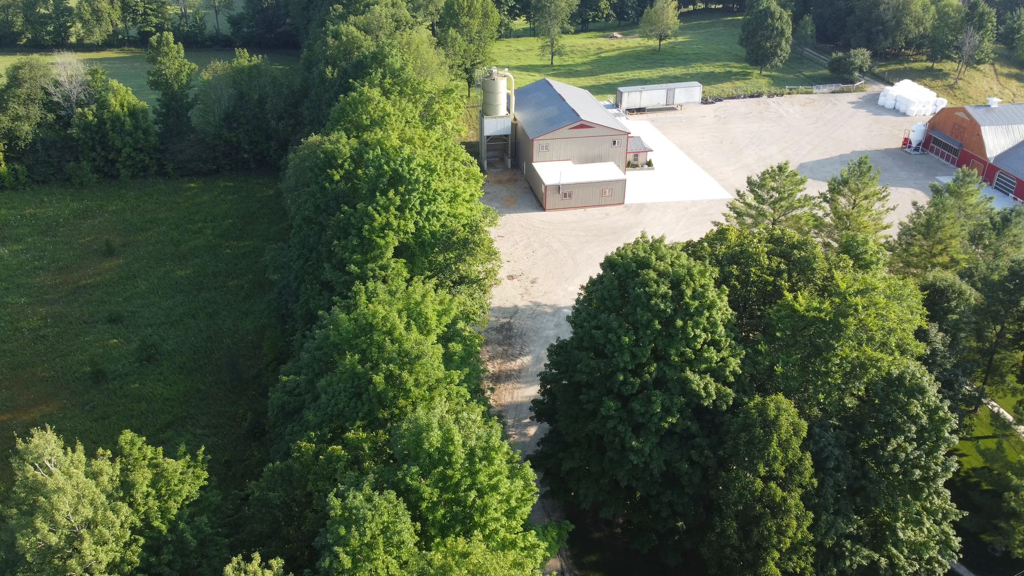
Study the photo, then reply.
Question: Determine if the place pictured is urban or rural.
rural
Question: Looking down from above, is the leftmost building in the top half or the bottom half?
top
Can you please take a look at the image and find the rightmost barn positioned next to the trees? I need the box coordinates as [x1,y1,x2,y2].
[918,93,1024,204]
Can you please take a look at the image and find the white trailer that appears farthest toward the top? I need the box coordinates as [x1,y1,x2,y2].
[618,80,704,112]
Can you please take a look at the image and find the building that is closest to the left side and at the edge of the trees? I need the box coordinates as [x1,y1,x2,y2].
[507,77,655,211]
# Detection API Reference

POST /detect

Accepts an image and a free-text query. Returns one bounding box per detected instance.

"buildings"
[918,93,1024,204]
[507,77,655,211]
